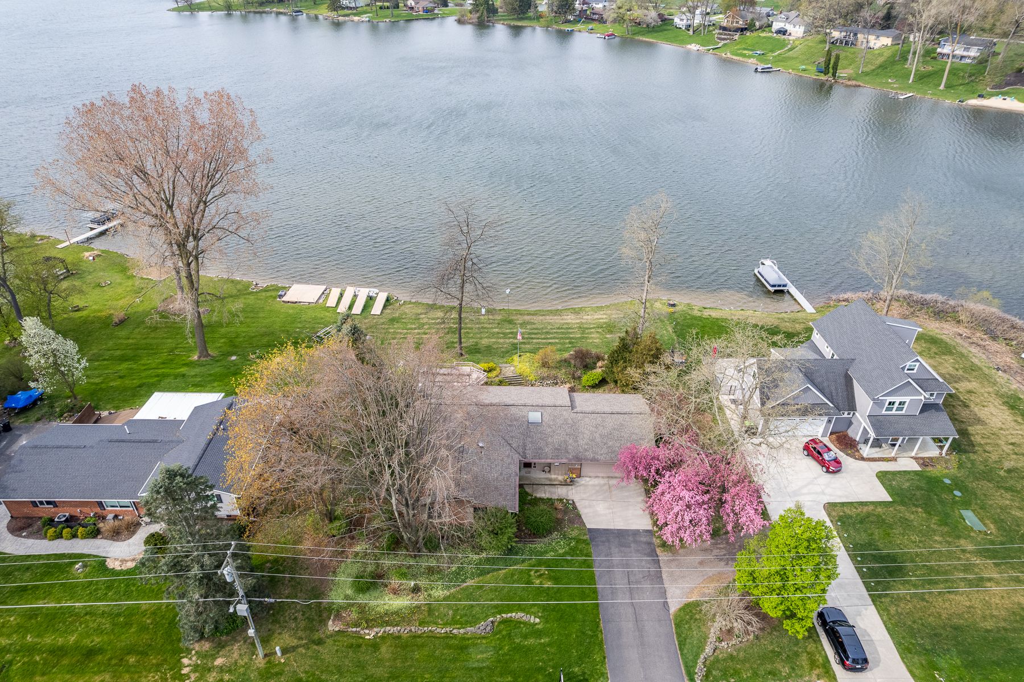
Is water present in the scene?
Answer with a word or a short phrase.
Yes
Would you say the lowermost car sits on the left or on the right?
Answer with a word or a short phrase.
right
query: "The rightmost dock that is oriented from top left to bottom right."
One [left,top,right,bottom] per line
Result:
[760,257,818,315]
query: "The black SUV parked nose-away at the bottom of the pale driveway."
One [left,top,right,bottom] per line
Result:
[815,607,872,673]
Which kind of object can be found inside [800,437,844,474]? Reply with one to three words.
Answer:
car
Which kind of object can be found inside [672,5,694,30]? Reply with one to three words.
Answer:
house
